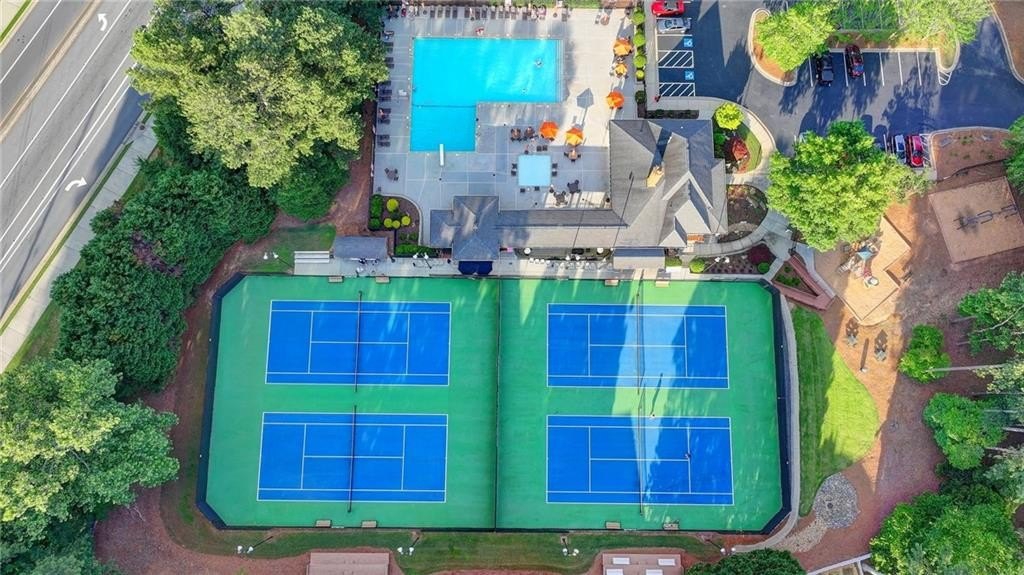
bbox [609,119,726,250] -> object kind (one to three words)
building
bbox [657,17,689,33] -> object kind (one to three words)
car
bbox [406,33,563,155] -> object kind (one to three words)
swimming pool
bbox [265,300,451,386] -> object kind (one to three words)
tennis court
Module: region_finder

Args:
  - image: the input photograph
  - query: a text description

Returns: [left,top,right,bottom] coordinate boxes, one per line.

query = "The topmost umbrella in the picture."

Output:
[614,39,631,55]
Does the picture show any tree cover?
Yes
